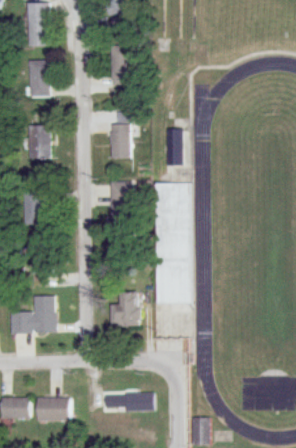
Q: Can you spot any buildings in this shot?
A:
Yes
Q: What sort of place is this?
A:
sports ground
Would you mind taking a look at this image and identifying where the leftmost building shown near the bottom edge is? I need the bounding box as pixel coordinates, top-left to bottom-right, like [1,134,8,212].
[0,397,31,426]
